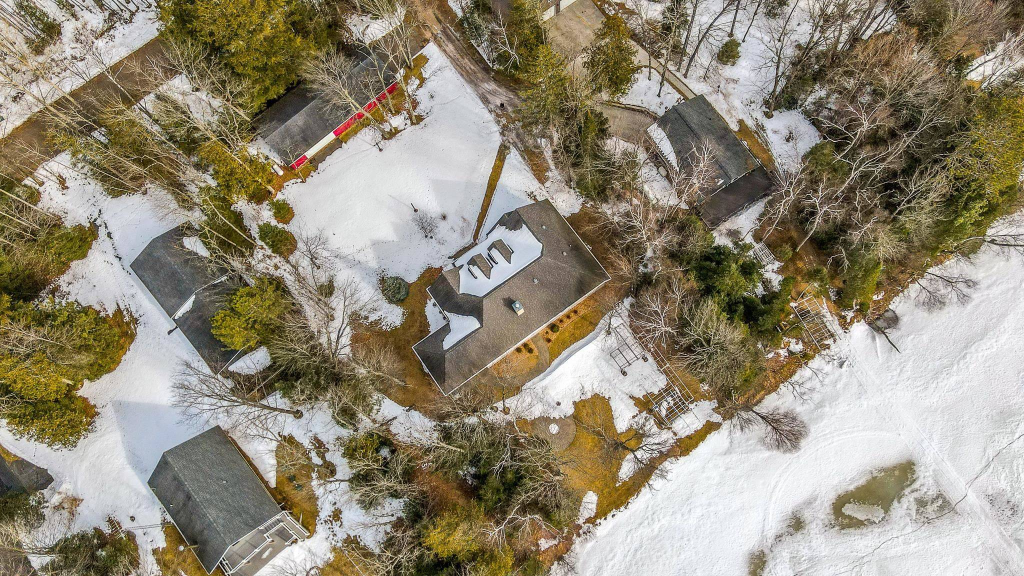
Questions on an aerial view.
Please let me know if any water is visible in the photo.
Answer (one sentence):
Yes, there's water in this view.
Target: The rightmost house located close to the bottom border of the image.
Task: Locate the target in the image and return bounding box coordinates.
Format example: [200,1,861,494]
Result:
[147,425,315,576]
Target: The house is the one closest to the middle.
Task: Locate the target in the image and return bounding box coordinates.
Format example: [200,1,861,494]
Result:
[412,198,611,396]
